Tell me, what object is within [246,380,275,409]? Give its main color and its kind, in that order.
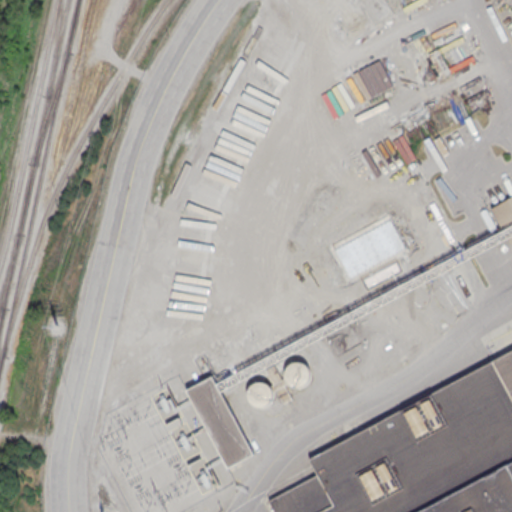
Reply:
white storage tank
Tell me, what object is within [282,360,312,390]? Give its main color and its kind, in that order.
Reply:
white storage tank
